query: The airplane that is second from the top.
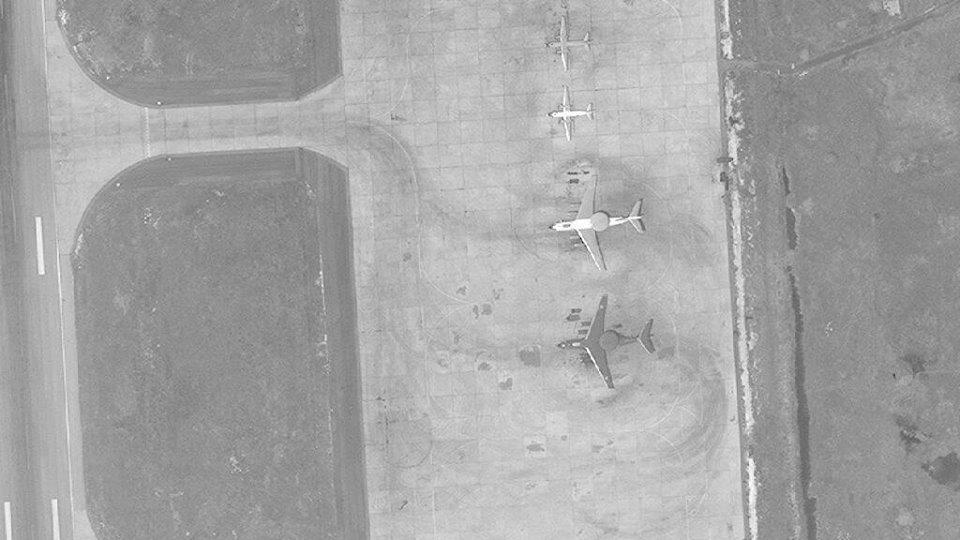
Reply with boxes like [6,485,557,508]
[547,86,592,142]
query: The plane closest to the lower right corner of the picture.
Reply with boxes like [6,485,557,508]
[558,293,652,389]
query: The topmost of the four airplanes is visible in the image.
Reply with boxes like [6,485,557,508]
[546,16,591,71]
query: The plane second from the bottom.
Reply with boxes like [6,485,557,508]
[550,175,644,270]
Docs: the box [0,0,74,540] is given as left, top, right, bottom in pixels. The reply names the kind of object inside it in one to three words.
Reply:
runway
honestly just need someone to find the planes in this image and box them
[547,86,592,142]
[558,293,652,389]
[546,16,591,71]
[550,175,644,270]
